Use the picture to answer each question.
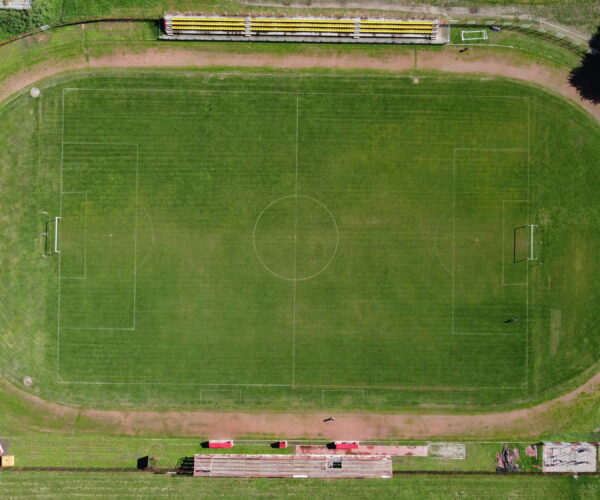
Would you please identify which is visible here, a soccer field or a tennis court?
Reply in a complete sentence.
Of the two, only a soccer field appears.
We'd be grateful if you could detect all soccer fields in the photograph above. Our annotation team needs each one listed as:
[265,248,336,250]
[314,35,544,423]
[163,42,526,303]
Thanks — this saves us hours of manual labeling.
[43,79,550,405]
